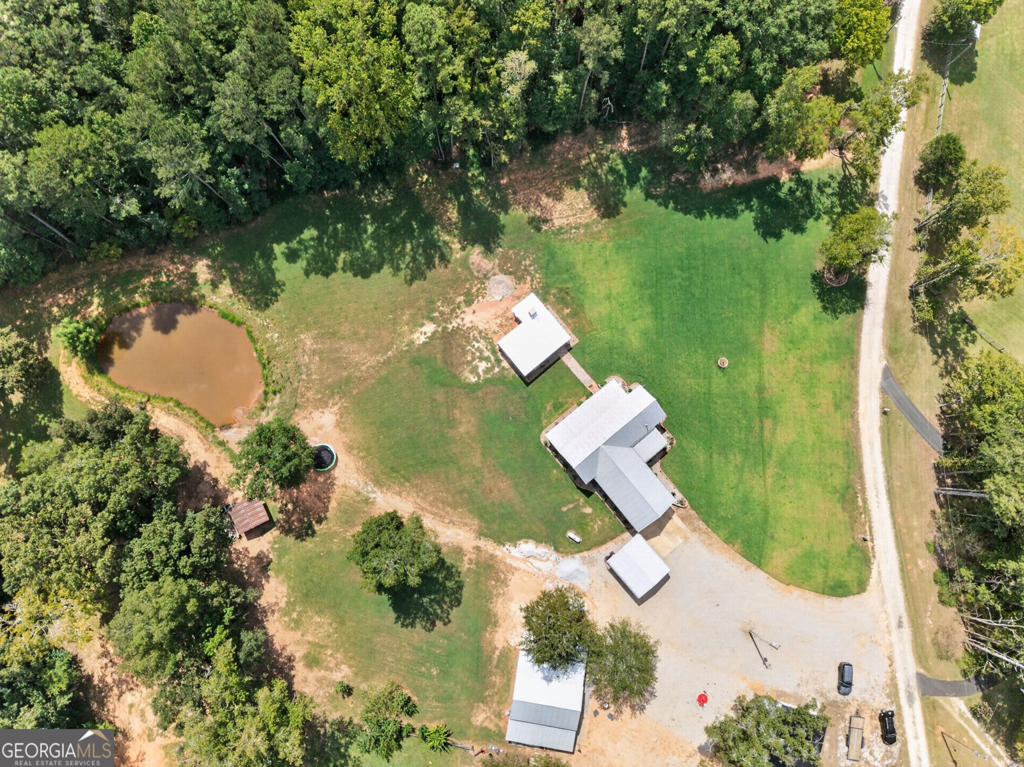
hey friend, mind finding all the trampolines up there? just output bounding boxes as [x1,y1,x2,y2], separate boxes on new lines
[311,444,338,471]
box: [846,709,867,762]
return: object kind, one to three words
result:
trailer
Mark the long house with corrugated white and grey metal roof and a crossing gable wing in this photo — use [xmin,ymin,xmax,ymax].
[545,379,676,532]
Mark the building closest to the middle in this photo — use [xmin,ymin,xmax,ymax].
[497,293,570,376]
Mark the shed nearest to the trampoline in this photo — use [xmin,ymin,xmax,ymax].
[230,499,272,534]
